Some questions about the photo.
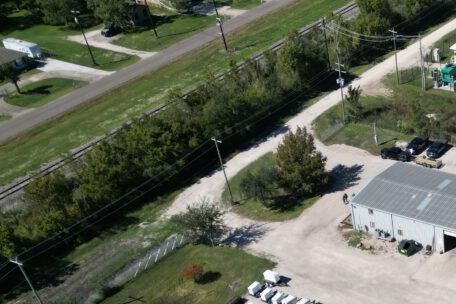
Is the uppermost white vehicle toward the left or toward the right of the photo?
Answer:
left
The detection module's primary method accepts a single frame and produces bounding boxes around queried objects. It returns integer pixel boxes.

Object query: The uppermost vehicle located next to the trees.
[98,23,122,37]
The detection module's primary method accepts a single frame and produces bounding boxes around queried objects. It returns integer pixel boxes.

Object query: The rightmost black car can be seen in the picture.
[427,137,448,159]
